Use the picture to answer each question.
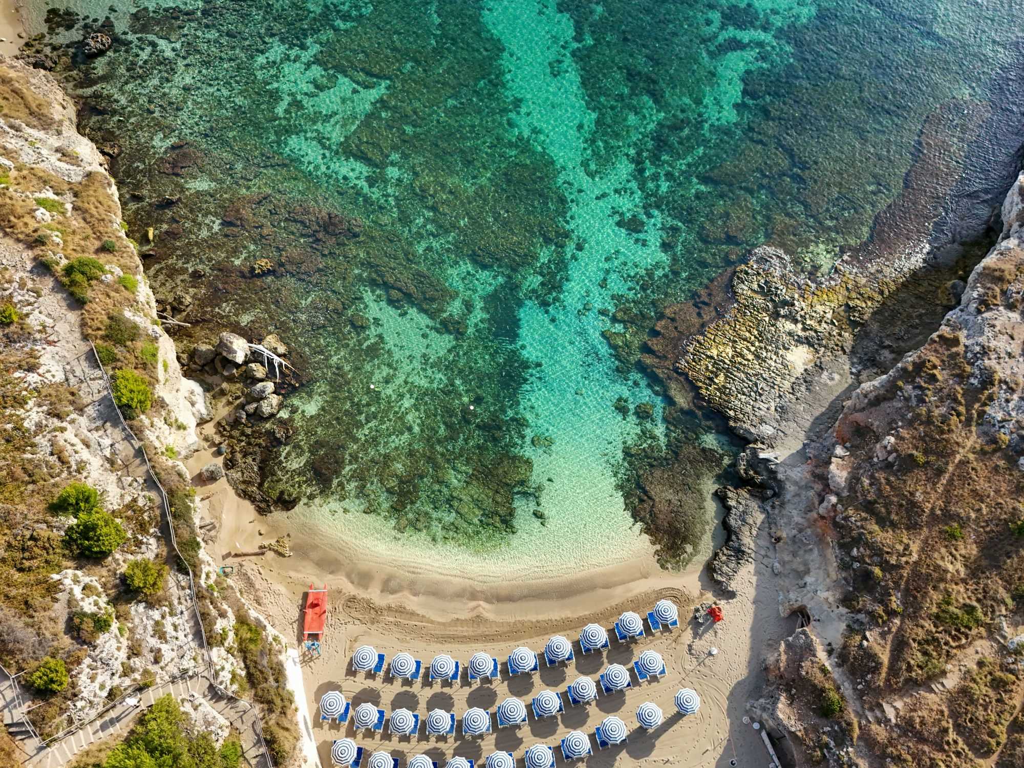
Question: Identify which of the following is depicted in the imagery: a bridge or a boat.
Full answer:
It is a boat that can be seen here.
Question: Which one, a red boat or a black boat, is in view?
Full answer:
There is a red boat in the scene.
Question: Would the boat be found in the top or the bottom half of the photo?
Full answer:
The bottom half of the photo is where the boat is.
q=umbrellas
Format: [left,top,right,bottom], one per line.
[673,687,699,715]
[598,718,624,746]
[320,689,347,718]
[425,708,451,736]
[639,650,663,676]
[603,664,628,691]
[463,708,488,736]
[509,646,535,673]
[528,741,553,768]
[583,624,609,650]
[635,700,661,728]
[356,700,382,730]
[391,707,417,735]
[391,654,416,680]
[469,654,496,681]
[431,656,456,682]
[354,645,379,672]
[561,729,588,758]
[486,748,513,768]
[654,600,678,625]
[534,687,560,716]
[332,737,361,767]
[368,750,394,768]
[617,612,641,637]
[544,635,570,662]
[498,698,524,727]
[568,677,594,705]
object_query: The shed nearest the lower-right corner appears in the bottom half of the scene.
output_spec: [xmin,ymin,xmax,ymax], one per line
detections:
[759,724,801,768]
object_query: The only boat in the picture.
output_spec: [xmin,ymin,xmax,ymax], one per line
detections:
[303,586,329,641]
